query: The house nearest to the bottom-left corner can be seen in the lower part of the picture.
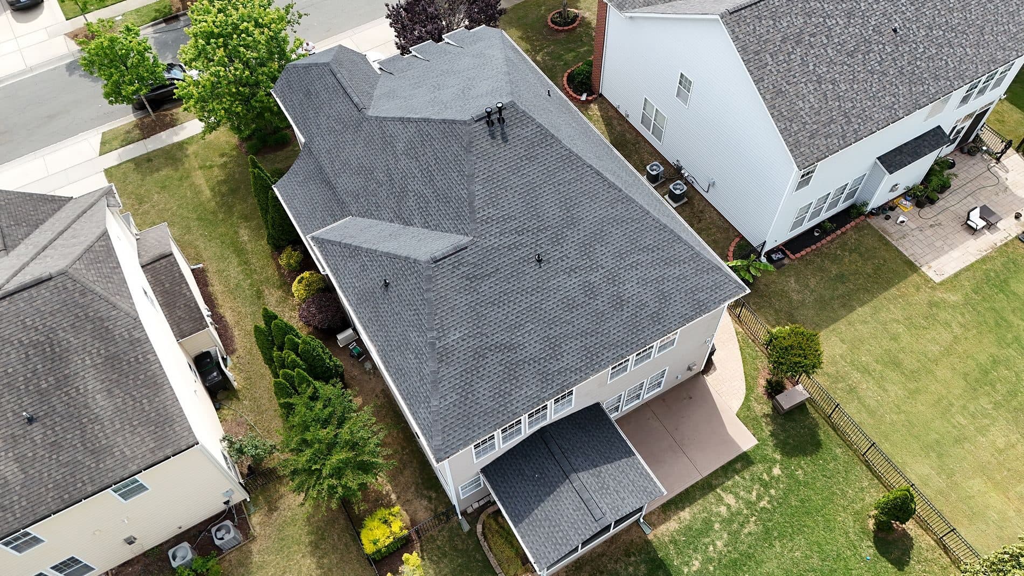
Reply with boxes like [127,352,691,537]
[0,184,249,576]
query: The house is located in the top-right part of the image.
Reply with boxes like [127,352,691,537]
[592,0,1024,257]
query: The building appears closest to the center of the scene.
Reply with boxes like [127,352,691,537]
[270,26,753,576]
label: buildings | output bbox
[0,184,249,576]
[592,0,1024,257]
[270,26,753,576]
